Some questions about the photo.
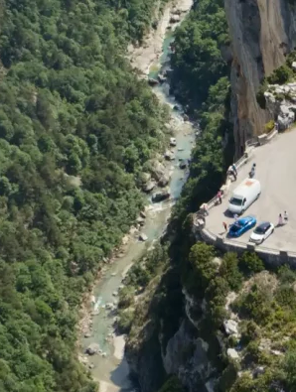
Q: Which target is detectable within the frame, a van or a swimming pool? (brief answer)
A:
van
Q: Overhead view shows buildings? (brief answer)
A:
No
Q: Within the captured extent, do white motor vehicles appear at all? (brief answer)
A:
Yes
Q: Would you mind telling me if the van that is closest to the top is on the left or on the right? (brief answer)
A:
right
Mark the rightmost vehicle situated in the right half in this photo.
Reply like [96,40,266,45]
[248,216,276,242]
